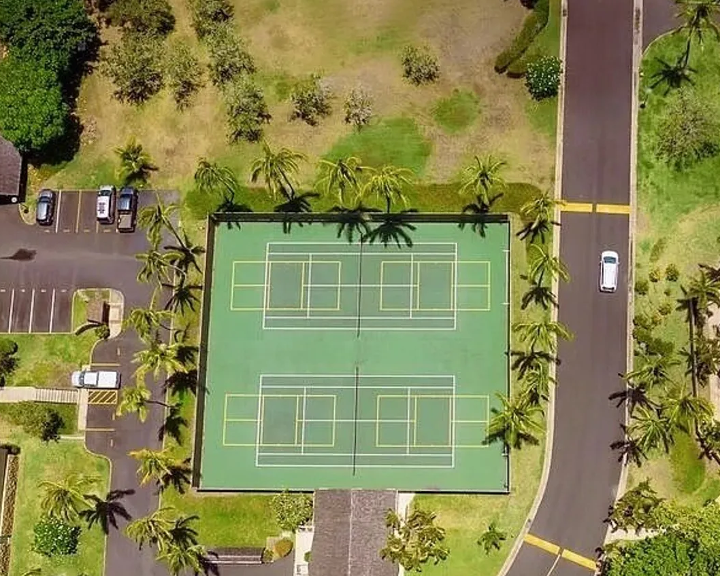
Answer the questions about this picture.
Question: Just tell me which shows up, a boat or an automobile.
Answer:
automobile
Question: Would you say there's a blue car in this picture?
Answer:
No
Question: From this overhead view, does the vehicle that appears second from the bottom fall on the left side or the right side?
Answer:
right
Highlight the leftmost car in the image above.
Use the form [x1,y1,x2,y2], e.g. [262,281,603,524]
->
[35,190,57,226]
